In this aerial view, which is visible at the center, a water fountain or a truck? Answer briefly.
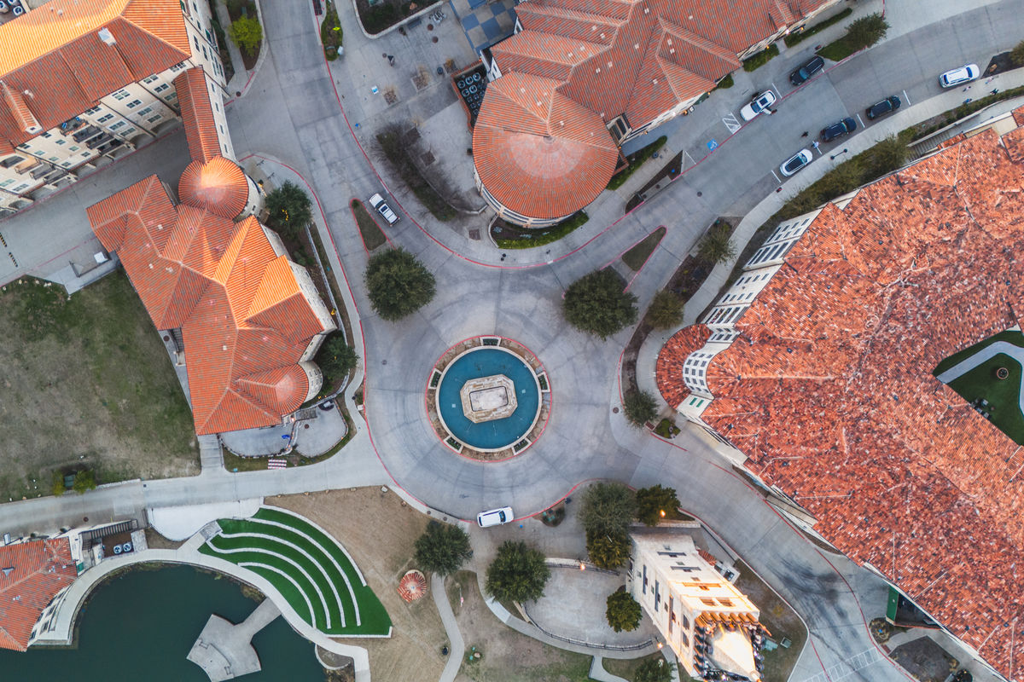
water fountain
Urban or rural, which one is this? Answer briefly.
urban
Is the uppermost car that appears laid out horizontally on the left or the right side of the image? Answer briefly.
right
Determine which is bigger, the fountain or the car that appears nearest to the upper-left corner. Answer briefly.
the fountain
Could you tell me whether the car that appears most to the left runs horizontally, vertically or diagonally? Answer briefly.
diagonally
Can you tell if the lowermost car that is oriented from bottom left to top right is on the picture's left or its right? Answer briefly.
right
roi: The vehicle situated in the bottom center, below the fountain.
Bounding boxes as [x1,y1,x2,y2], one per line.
[477,508,513,527]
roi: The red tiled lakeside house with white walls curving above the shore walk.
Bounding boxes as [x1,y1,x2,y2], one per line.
[0,529,100,653]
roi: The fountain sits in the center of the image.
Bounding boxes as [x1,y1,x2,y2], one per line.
[424,334,552,461]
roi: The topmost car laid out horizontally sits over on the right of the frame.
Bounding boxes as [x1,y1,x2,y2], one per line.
[941,62,982,84]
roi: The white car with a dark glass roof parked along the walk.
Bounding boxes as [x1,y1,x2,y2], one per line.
[781,147,815,175]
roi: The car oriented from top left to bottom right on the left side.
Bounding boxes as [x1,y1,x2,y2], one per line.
[367,191,399,225]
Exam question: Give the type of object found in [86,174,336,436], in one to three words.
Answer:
house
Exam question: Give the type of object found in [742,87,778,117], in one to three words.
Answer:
car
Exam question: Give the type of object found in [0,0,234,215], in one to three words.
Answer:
building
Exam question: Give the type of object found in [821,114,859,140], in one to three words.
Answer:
car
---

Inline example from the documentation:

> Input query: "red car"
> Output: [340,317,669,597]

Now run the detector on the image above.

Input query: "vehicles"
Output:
[941,62,982,84]
[821,114,859,140]
[866,92,904,117]
[742,87,778,117]
[781,147,815,175]
[367,191,399,225]
[791,52,827,82]
[477,508,513,527]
